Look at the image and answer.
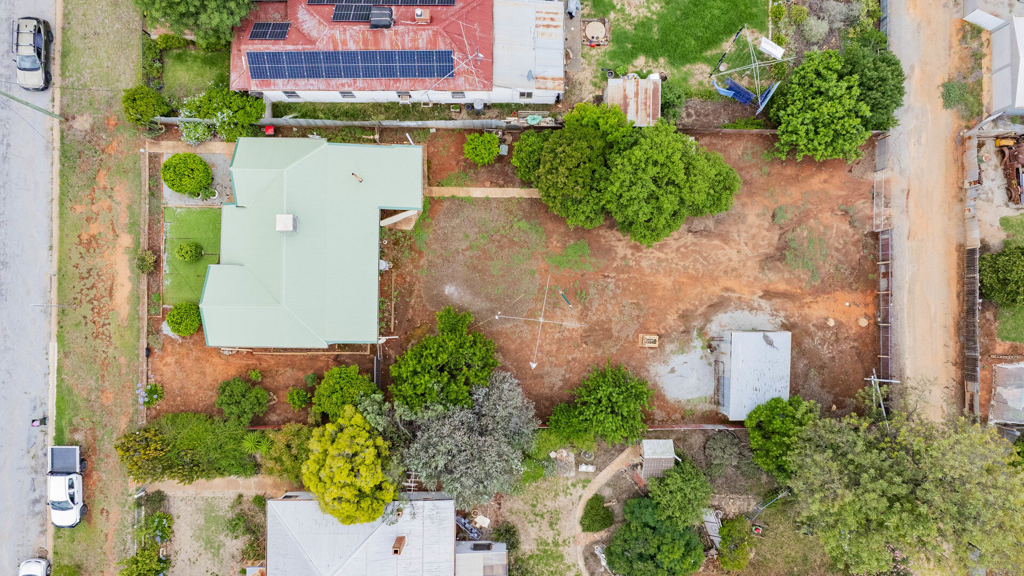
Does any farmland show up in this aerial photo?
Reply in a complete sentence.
No, the picture contains no farmland.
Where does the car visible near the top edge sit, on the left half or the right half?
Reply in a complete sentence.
The car visible near the top edge appears in the left half of the scene.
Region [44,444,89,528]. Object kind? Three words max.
vehicle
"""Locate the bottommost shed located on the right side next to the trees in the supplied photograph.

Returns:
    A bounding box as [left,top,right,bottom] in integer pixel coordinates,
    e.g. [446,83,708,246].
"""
[641,439,681,480]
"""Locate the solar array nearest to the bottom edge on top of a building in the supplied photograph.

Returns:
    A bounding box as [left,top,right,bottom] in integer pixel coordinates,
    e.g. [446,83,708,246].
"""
[247,51,455,80]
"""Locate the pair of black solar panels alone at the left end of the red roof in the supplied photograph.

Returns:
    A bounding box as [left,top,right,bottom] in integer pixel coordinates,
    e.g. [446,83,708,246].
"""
[249,21,290,38]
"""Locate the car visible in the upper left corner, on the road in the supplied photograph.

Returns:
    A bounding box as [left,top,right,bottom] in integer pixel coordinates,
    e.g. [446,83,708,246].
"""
[9,18,56,93]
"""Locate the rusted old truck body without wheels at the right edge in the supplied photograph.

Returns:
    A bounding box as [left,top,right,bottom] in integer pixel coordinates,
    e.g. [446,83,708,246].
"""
[999,146,1024,204]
